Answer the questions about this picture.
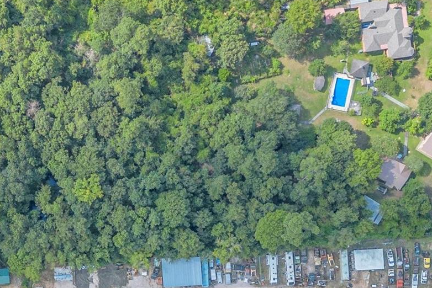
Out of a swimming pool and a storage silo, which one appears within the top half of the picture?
swimming pool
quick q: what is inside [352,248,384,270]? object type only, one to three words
shed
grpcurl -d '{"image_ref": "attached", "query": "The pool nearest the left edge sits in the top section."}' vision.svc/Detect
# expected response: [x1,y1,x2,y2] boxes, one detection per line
[325,72,355,113]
